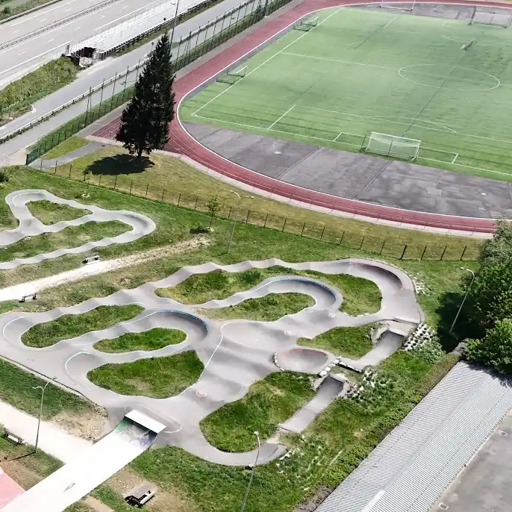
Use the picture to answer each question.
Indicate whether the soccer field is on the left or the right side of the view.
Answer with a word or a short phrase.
right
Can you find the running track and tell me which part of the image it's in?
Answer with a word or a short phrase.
top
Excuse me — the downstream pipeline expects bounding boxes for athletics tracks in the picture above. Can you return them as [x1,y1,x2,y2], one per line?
[90,0,512,234]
